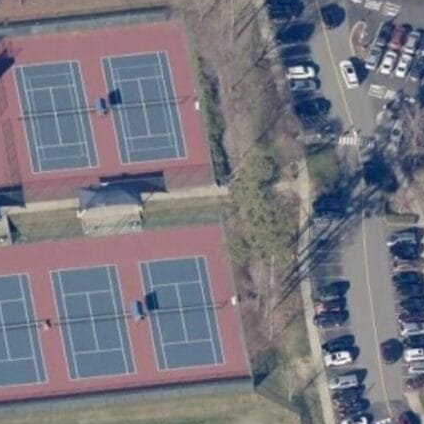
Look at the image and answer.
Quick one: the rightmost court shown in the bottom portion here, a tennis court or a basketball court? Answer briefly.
tennis court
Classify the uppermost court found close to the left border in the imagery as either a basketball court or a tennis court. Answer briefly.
tennis court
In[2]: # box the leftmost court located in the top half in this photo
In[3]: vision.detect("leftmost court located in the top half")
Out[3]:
[14,60,99,173]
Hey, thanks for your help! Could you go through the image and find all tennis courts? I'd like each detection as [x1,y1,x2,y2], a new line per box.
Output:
[50,264,136,380]
[14,60,99,173]
[0,273,47,386]
[102,51,187,164]
[138,255,225,371]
